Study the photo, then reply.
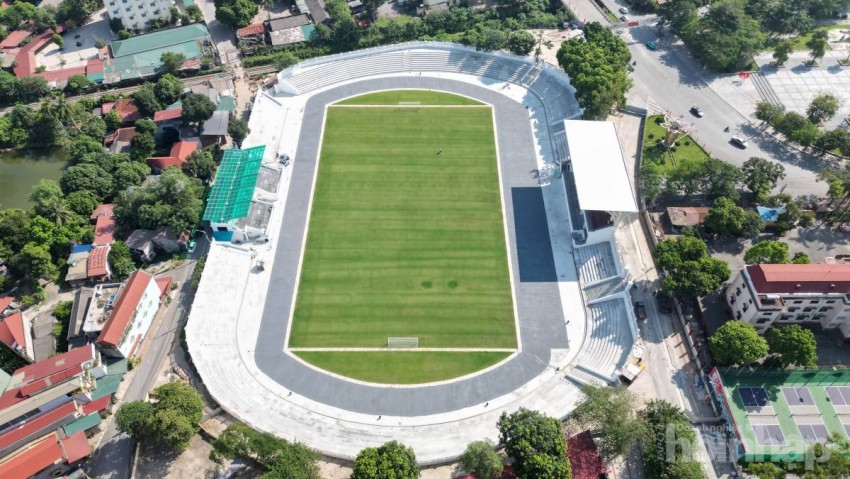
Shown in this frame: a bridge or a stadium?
stadium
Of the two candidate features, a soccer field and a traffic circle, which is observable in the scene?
soccer field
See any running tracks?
Yes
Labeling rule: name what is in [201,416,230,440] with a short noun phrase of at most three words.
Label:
building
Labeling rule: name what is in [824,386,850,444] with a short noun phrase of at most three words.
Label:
sports court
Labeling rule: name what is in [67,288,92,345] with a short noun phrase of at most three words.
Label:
shed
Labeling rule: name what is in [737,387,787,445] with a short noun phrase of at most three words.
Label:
sports court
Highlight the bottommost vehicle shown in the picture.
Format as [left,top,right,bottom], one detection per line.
[623,361,643,380]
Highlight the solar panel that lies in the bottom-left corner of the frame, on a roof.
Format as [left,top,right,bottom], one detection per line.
[0,406,41,430]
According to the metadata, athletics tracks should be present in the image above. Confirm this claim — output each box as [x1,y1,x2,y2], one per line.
[255,76,569,416]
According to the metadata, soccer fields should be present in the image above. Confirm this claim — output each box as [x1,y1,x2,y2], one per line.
[285,88,520,387]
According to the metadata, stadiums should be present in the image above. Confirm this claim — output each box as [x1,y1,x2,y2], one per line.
[182,43,637,467]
